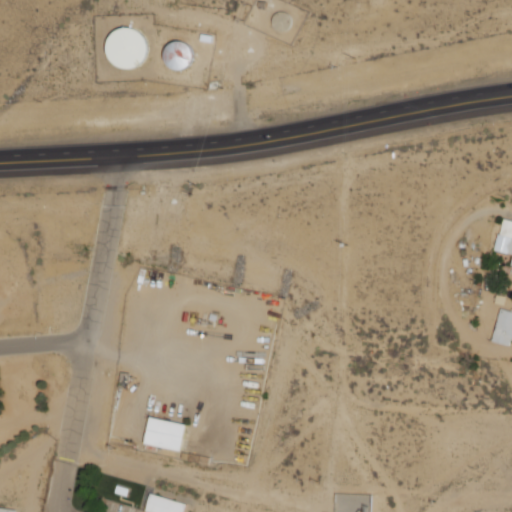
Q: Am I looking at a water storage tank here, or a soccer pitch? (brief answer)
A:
water storage tank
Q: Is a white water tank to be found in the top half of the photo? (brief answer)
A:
Yes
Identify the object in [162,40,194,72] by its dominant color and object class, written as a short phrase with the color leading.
white water tank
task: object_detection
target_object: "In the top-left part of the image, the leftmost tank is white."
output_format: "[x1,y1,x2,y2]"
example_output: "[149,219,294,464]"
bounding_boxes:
[104,23,150,71]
